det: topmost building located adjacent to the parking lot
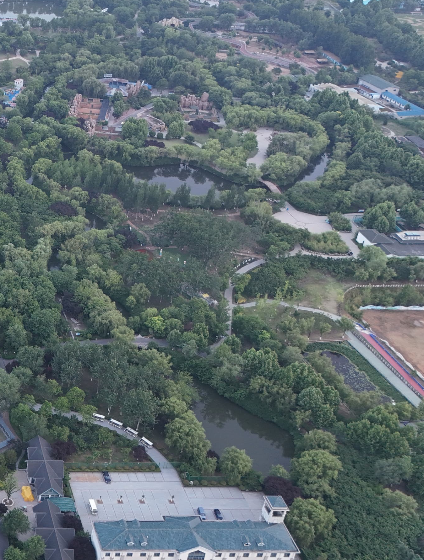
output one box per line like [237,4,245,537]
[7,422,64,498]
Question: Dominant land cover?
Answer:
trees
